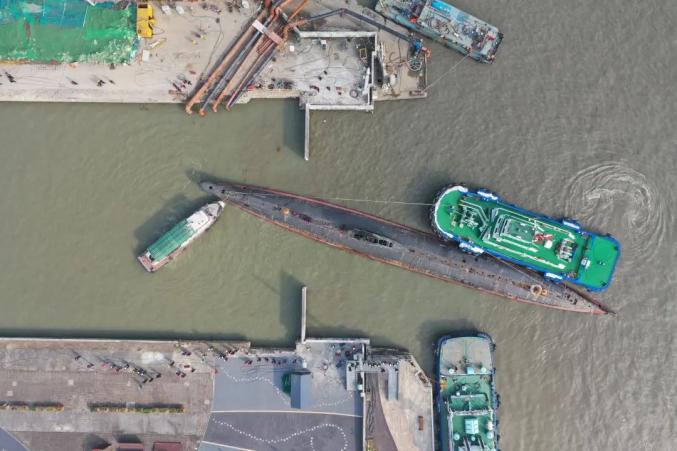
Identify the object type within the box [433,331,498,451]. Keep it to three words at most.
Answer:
boat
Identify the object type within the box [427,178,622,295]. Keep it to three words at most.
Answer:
boat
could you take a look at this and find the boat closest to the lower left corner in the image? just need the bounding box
[137,202,227,273]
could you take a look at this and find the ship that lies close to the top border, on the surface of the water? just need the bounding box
[376,0,506,64]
